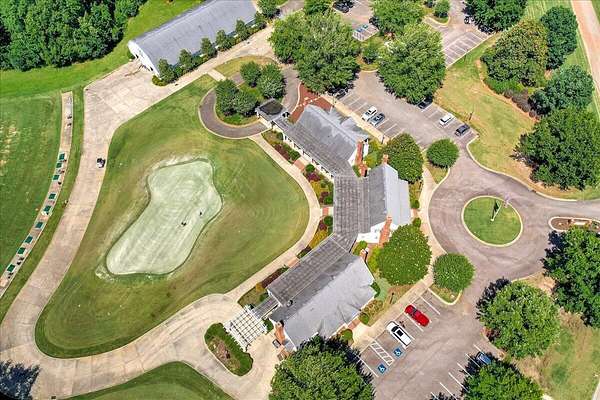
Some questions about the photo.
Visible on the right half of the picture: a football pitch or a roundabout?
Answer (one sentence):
Visible on the right half of the picture is a roundabout.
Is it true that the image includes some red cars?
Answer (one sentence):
Yes, I can see a red car in this picture.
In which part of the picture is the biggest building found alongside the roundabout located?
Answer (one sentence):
Look in the center portion of the view to spot the biggest building found alongside the roundabout.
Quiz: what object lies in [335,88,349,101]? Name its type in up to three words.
vehicle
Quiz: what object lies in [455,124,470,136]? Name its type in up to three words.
vehicle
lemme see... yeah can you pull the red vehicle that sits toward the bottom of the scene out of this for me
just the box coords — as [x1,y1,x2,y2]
[406,305,429,327]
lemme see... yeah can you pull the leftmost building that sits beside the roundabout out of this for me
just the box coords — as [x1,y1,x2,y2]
[253,103,412,348]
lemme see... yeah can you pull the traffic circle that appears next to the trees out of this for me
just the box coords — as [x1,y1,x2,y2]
[444,182,542,262]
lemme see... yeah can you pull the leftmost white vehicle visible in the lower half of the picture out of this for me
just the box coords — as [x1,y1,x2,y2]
[387,322,412,347]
